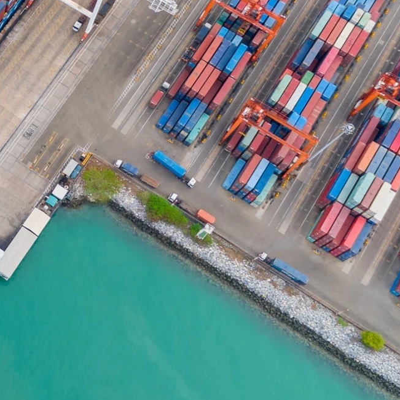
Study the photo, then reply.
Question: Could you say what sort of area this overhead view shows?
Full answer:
It's a port.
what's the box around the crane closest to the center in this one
[219,98,323,182]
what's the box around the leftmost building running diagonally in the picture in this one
[0,226,37,278]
